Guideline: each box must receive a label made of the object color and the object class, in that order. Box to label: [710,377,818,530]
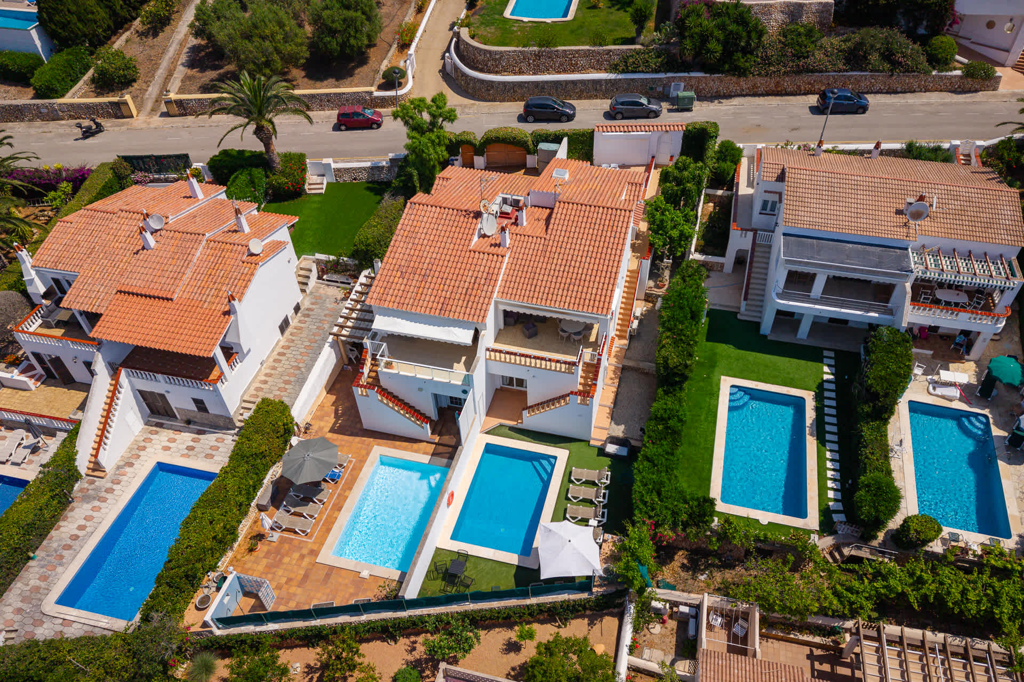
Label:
blue swimming pool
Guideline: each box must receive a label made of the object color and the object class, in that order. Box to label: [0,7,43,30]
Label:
blue swimming pool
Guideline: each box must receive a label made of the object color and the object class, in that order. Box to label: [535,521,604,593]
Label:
white umbrella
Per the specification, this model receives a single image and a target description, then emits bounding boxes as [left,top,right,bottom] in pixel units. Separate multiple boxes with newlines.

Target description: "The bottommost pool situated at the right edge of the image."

[895,395,1024,552]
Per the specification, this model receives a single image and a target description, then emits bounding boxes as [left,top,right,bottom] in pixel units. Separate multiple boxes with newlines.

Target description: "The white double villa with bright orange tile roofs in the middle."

[352,156,660,450]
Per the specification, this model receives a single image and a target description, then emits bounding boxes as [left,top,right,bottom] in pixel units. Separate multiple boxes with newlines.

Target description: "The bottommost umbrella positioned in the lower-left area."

[257,513,280,546]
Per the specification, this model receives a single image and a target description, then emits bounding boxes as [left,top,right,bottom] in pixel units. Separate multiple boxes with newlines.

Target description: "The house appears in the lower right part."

[690,593,808,682]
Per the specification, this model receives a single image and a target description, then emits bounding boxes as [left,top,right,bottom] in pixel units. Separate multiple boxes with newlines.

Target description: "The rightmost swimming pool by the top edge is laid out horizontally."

[498,0,585,23]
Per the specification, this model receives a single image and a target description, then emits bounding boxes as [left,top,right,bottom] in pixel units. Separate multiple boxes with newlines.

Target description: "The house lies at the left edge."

[0,175,308,475]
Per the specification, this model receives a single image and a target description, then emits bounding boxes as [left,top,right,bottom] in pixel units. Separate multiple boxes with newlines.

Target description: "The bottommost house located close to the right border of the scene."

[722,135,1024,363]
